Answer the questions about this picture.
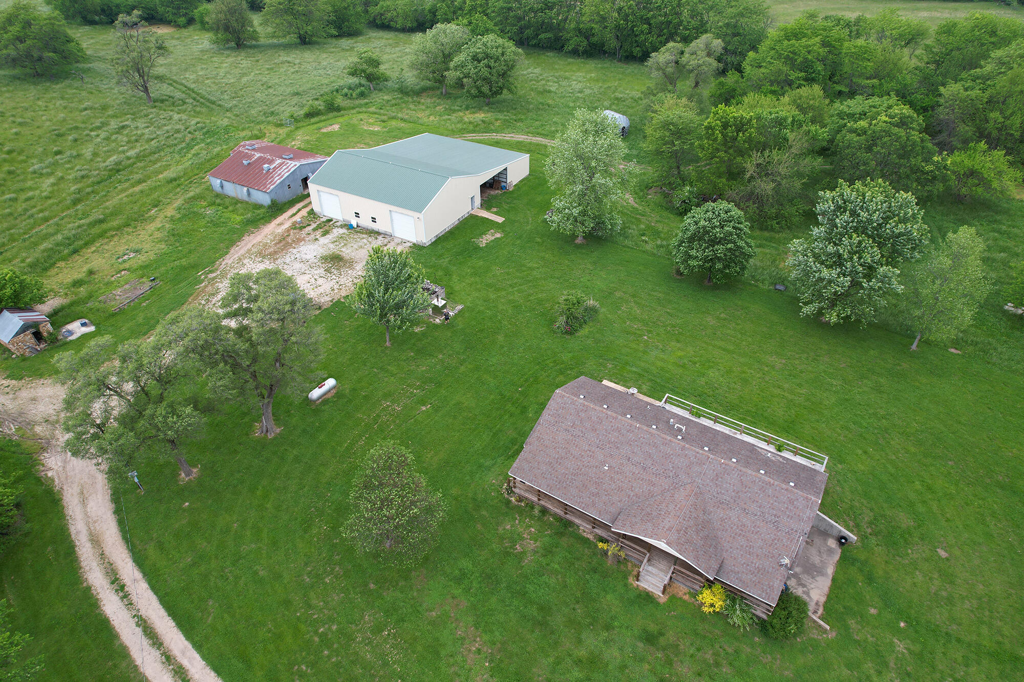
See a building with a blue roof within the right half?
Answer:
No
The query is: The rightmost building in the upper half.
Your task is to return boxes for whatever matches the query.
[307,132,531,246]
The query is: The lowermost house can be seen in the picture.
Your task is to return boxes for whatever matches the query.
[508,376,832,625]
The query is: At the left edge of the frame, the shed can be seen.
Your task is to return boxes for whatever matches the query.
[0,309,58,359]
